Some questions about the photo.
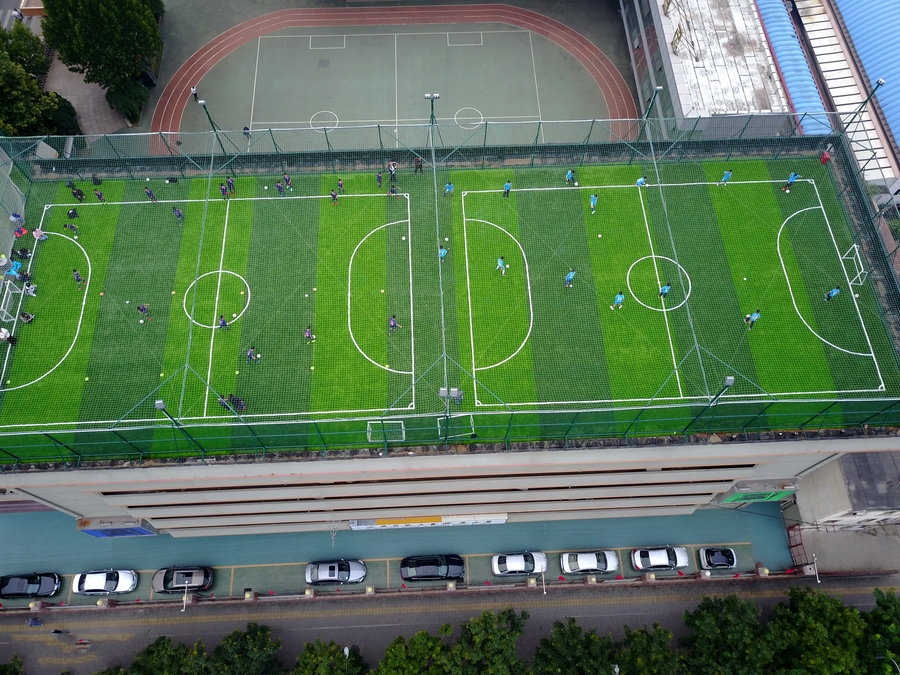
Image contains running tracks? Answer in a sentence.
Yes, this view includes a running track.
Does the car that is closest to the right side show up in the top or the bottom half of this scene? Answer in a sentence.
You can find the car that is closest to the right side in the bottom half.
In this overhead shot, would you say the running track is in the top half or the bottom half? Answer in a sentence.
The running track sits in the top half of the picture.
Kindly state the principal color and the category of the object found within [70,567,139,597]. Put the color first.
white car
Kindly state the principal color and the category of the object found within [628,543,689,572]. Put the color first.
white car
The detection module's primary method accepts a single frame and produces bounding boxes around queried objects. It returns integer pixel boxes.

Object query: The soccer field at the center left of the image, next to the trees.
[0,192,416,426]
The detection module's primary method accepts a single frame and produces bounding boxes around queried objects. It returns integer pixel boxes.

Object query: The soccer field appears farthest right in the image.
[461,179,885,407]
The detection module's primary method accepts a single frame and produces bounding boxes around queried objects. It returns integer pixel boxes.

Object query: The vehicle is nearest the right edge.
[697,544,738,570]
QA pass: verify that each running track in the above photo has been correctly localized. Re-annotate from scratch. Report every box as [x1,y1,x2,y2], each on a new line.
[147,3,640,157]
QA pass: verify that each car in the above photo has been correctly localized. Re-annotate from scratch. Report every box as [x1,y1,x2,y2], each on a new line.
[70,567,139,597]
[697,544,738,570]
[490,548,547,578]
[559,547,619,577]
[305,556,367,586]
[628,543,689,572]
[0,570,62,600]
[151,565,214,596]
[399,552,466,583]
